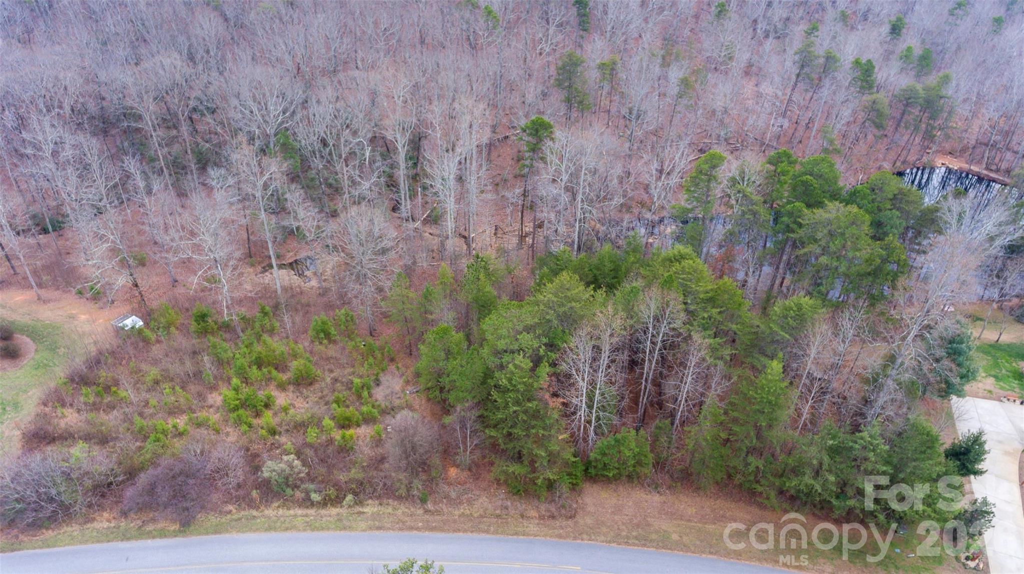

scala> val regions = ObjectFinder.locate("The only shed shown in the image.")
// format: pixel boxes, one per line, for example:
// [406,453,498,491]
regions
[114,313,147,337]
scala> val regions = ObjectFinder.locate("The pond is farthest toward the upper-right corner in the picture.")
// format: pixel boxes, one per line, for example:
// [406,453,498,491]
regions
[626,169,1024,300]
